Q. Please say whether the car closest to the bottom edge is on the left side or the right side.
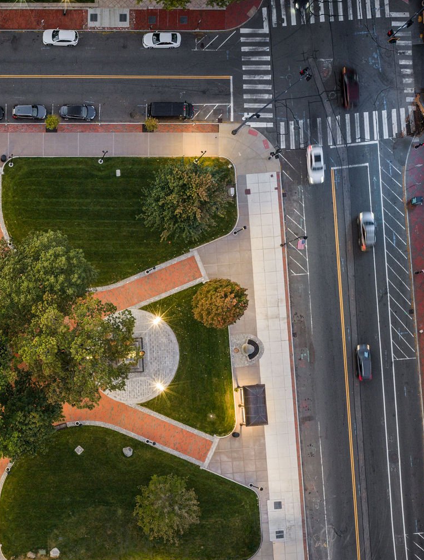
right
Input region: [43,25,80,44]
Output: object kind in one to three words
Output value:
car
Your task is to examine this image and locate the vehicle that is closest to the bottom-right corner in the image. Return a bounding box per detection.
[356,344,376,382]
